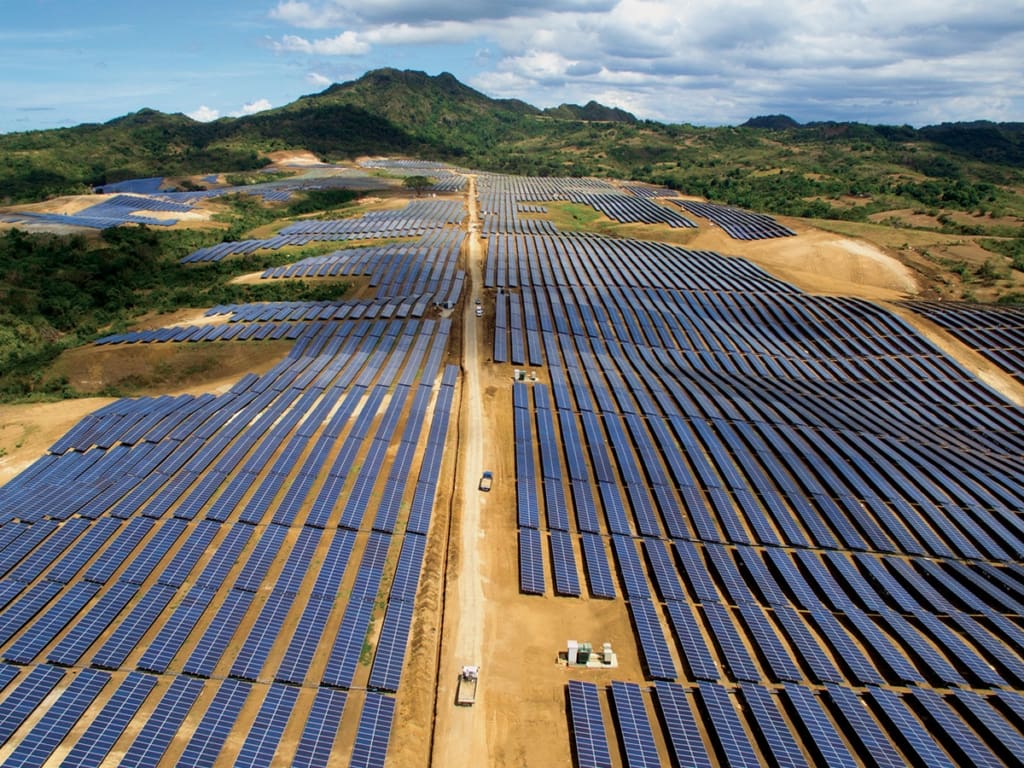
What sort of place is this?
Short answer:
solar farm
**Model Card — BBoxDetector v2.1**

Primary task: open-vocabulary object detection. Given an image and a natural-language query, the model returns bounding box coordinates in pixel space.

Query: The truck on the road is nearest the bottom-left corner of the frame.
[458,664,480,705]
